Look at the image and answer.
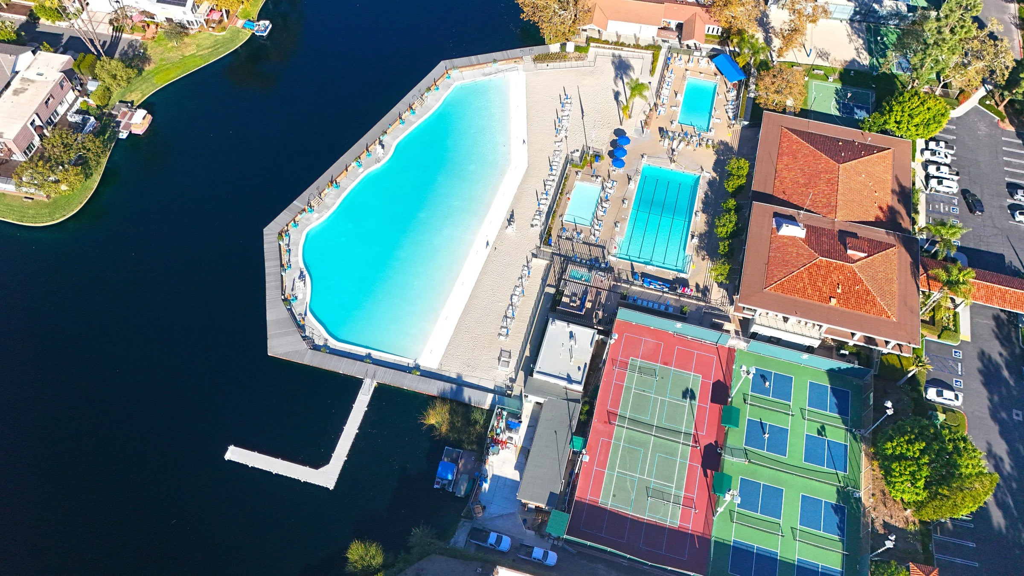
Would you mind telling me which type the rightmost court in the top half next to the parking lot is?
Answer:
basketball court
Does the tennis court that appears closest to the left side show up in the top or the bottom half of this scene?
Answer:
bottom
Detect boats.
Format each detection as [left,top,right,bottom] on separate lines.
[250,20,277,36]
[465,479,473,496]
[456,474,468,497]
[433,445,462,492]
[119,130,130,139]
[130,109,153,134]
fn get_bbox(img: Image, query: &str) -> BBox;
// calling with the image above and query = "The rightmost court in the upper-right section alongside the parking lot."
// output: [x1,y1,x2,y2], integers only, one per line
[865,23,940,80]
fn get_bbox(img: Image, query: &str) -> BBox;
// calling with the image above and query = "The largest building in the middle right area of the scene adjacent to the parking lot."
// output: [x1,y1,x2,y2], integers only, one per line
[725,111,922,359]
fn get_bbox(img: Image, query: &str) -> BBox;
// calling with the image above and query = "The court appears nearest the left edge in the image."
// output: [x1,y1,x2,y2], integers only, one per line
[570,320,736,576]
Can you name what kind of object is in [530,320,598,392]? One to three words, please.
building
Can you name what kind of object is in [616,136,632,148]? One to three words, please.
umbrella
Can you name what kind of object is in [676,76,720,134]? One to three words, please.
swimming pool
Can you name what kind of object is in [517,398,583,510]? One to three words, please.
shed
